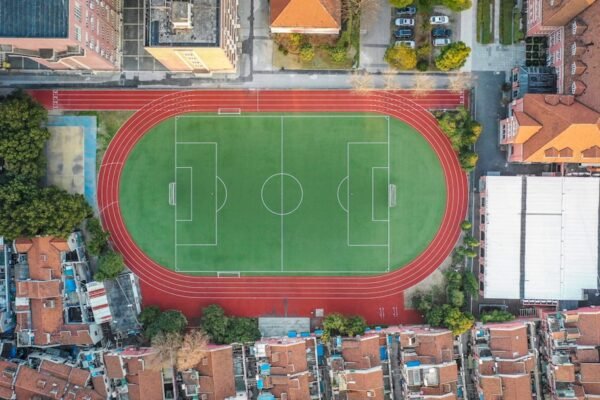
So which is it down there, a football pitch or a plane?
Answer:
football pitch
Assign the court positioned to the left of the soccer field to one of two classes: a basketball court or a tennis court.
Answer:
basketball court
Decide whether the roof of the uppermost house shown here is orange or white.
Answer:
orange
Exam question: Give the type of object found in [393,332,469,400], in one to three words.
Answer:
house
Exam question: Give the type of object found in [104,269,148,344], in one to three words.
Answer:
building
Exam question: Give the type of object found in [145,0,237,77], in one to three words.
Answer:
building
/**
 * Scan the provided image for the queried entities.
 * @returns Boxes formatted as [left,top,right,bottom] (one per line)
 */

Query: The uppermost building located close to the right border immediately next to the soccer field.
[500,0,600,163]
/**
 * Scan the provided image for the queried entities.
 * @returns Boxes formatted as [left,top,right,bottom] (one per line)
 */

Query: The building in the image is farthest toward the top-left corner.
[0,0,121,71]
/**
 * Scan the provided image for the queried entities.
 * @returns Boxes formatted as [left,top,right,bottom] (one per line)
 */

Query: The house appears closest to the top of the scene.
[270,0,340,32]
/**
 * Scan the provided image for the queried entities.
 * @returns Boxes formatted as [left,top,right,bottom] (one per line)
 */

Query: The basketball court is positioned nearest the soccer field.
[35,112,98,218]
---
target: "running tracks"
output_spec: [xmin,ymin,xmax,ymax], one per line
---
[26,90,472,327]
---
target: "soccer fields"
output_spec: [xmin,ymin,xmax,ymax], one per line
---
[120,112,446,276]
